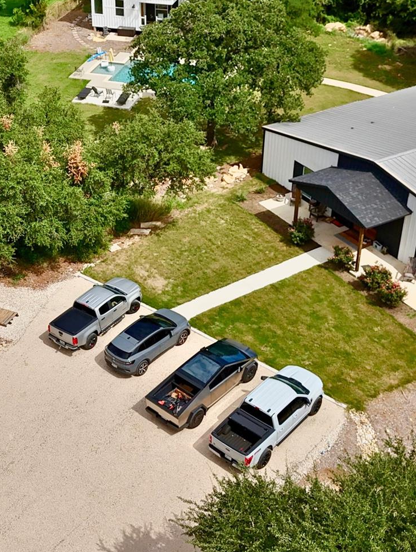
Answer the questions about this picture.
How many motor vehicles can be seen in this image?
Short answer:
4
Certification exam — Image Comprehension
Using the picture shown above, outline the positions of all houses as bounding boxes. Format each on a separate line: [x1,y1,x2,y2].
[261,86,416,273]
[91,0,177,33]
